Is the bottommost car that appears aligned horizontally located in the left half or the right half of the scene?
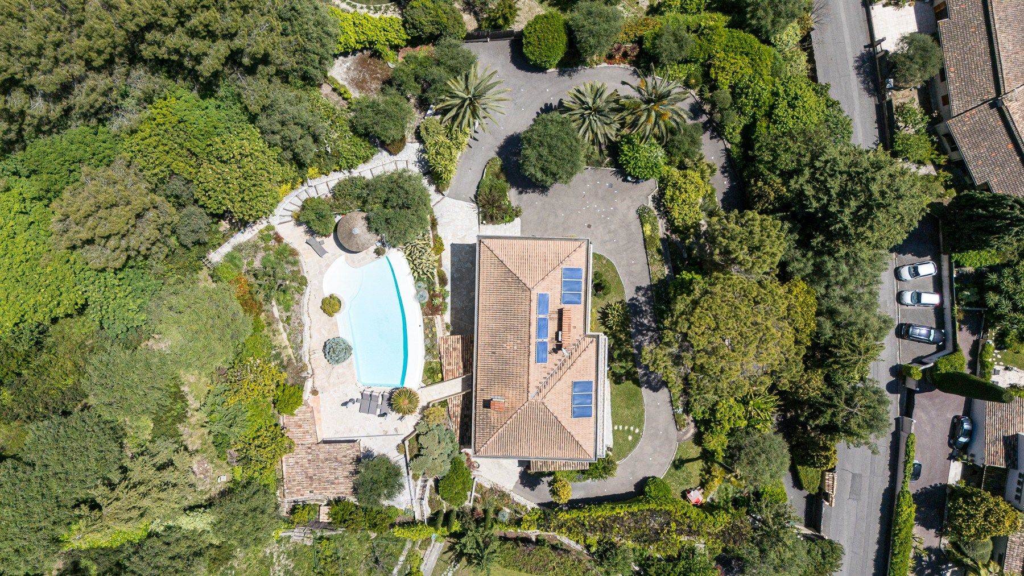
right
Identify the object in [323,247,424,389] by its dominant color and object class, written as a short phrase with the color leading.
white swimming pool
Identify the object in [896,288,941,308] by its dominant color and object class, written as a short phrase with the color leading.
white car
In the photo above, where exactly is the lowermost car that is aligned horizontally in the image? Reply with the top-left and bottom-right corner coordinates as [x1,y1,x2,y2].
[898,323,943,345]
